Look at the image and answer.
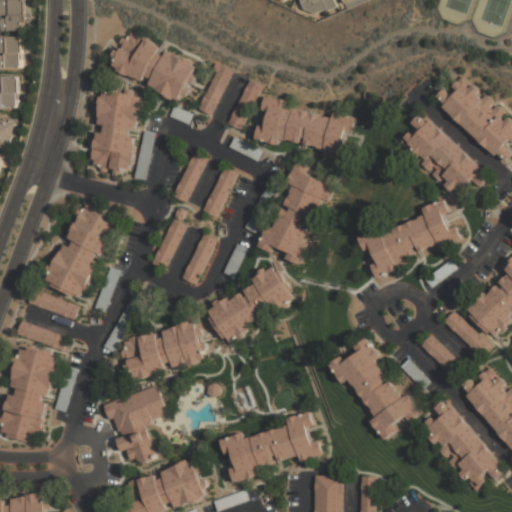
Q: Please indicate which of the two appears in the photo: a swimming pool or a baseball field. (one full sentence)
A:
Of the two, only a swimming pool appears.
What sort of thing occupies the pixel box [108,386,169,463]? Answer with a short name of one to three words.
building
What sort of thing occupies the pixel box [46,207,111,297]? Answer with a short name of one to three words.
building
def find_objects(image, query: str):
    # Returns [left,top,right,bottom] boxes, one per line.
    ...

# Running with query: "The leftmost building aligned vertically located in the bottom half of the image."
[0,343,60,444]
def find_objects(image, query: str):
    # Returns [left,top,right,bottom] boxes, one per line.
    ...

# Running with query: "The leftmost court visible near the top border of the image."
[438,0,476,24]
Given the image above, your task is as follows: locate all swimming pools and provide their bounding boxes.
[156,382,226,433]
